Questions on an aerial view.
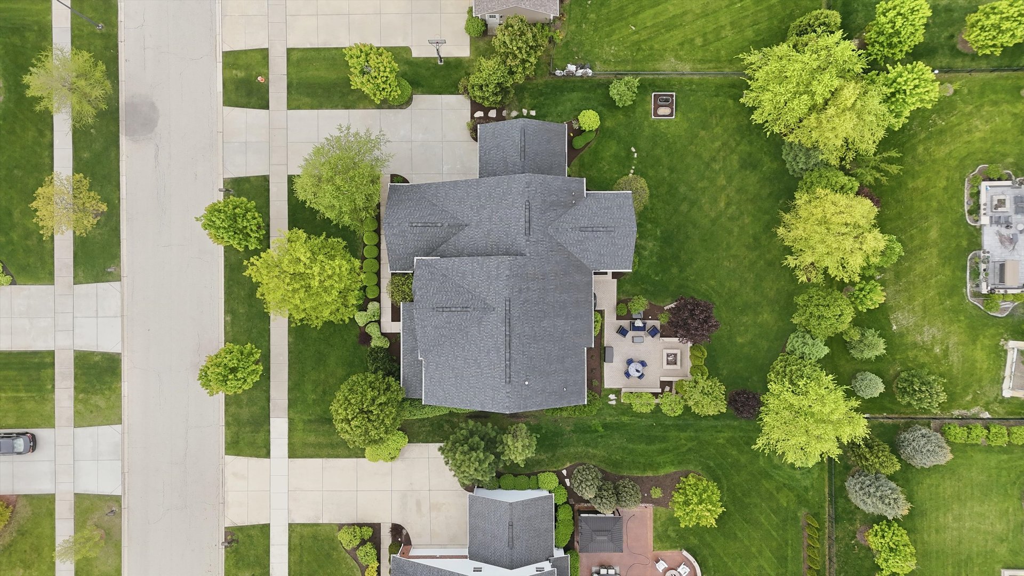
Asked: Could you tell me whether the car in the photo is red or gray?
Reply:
gray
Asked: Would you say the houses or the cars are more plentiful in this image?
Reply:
houses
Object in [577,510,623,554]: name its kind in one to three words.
gazebo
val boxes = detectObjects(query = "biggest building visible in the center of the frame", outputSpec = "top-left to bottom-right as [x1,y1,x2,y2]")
[383,117,637,414]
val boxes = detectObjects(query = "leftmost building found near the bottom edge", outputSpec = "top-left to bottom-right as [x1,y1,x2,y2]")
[389,488,571,576]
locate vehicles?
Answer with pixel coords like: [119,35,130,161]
[0,431,36,456]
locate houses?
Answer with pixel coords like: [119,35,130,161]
[383,117,637,414]
[389,488,571,576]
[471,0,560,24]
